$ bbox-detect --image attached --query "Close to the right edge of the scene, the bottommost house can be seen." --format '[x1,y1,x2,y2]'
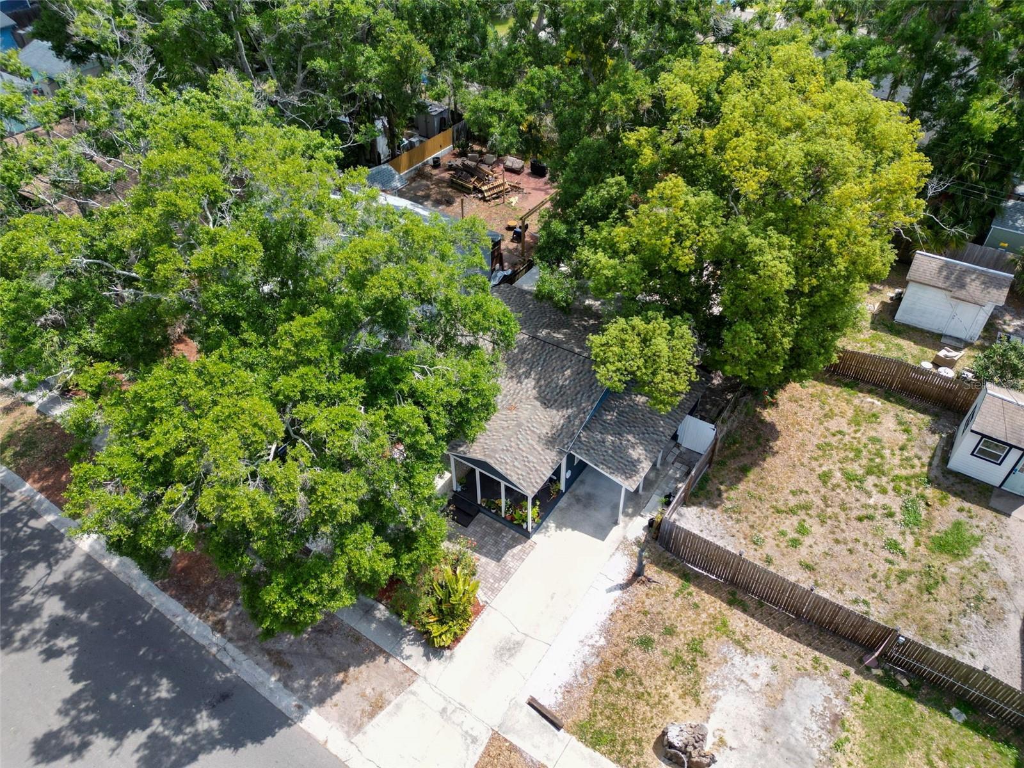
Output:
[949,367,1024,495]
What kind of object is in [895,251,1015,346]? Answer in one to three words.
shed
